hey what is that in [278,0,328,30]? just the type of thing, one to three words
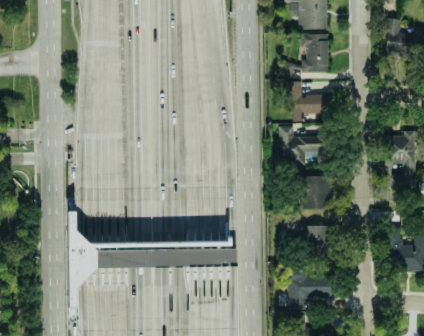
house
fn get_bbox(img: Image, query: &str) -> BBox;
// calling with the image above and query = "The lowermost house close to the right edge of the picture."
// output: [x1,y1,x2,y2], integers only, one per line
[392,225,424,272]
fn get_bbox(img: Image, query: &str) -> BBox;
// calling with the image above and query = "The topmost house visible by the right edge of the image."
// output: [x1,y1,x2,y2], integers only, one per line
[388,18,406,52]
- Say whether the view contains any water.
No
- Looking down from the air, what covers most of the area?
paved ground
